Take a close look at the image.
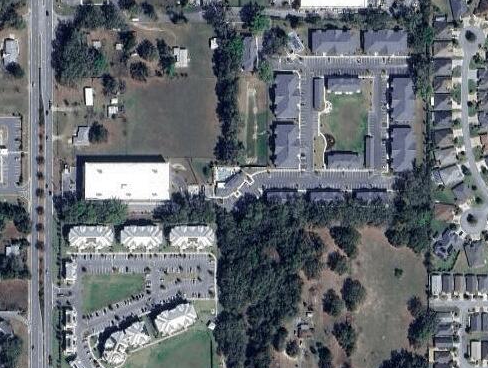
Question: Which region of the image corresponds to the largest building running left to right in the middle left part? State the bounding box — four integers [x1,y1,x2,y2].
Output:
[83,160,170,200]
